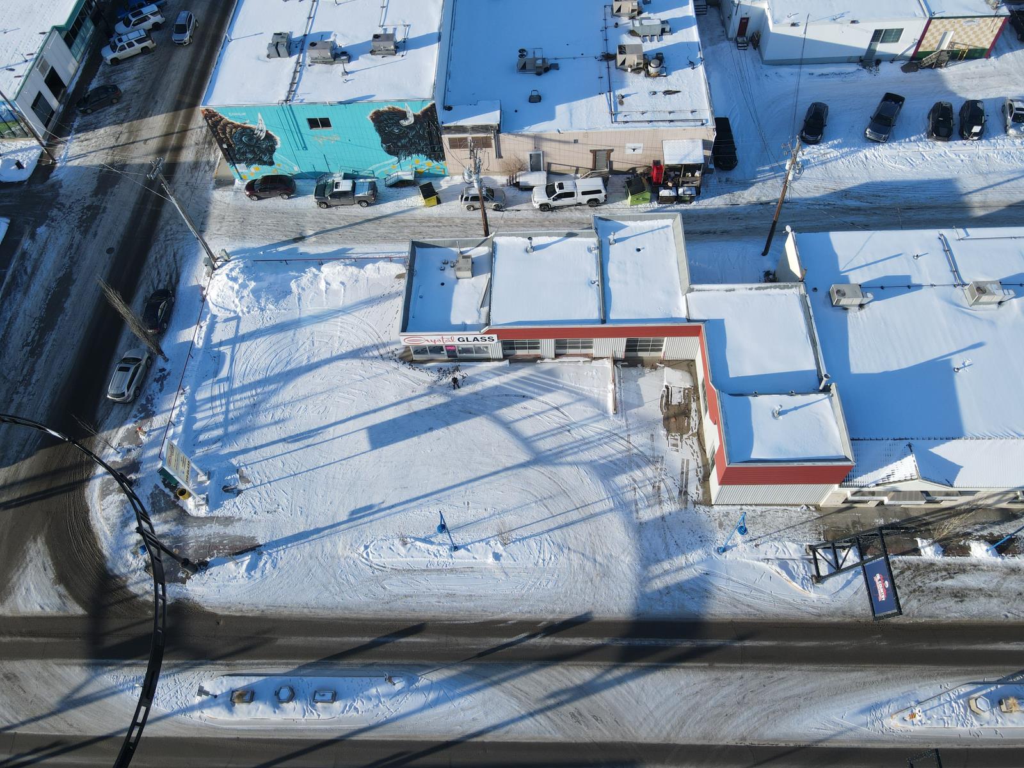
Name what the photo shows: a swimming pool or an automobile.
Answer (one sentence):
The one in the frame is an automobile.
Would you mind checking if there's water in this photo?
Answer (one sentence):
No, the picture contains no water.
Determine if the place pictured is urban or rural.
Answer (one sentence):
The area is urban.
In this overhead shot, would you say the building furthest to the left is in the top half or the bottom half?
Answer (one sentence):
It is in the top half that the building furthest to the left appears.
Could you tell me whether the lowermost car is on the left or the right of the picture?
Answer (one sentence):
The lowermost car is on the left side of the image.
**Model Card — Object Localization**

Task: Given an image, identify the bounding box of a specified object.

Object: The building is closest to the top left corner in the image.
[0,0,114,144]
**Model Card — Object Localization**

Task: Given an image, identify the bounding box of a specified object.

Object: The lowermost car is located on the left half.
[105,346,150,402]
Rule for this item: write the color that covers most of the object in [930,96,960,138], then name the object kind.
black car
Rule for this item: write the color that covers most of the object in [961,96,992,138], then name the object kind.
black car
